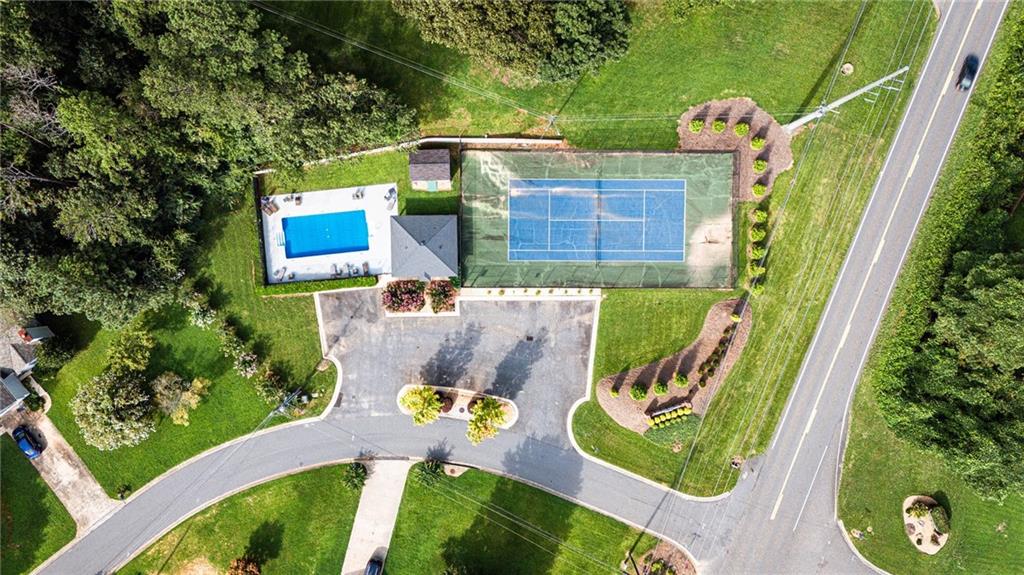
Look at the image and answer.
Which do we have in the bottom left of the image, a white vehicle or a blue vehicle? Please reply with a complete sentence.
There is a blue vehicle in the bottom left of the image.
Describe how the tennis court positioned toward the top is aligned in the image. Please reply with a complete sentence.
Seen from above, the tennis court positioned toward the top lies from left to right.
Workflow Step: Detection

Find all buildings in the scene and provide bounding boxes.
[391,215,458,281]
[408,149,451,191]
[0,312,67,414]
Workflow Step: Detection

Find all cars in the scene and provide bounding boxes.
[365,559,382,575]
[13,425,41,460]
[952,53,979,92]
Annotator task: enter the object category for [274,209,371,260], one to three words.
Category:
swimming pool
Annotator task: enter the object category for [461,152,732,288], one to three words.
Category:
tennis court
